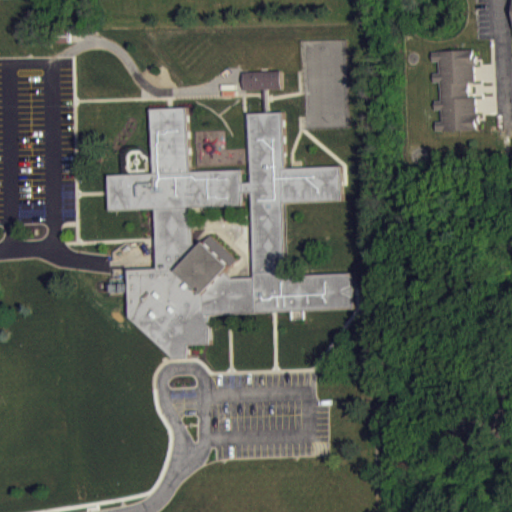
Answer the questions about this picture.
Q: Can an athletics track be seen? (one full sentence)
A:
No, there appears to be no athletics track in this shot.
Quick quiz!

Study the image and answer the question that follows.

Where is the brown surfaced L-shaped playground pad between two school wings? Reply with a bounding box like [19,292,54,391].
[195,130,246,168]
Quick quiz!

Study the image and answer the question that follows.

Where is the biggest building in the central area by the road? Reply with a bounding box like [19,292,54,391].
[106,108,356,359]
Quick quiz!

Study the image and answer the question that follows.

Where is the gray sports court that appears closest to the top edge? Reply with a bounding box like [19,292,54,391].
[302,40,348,128]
